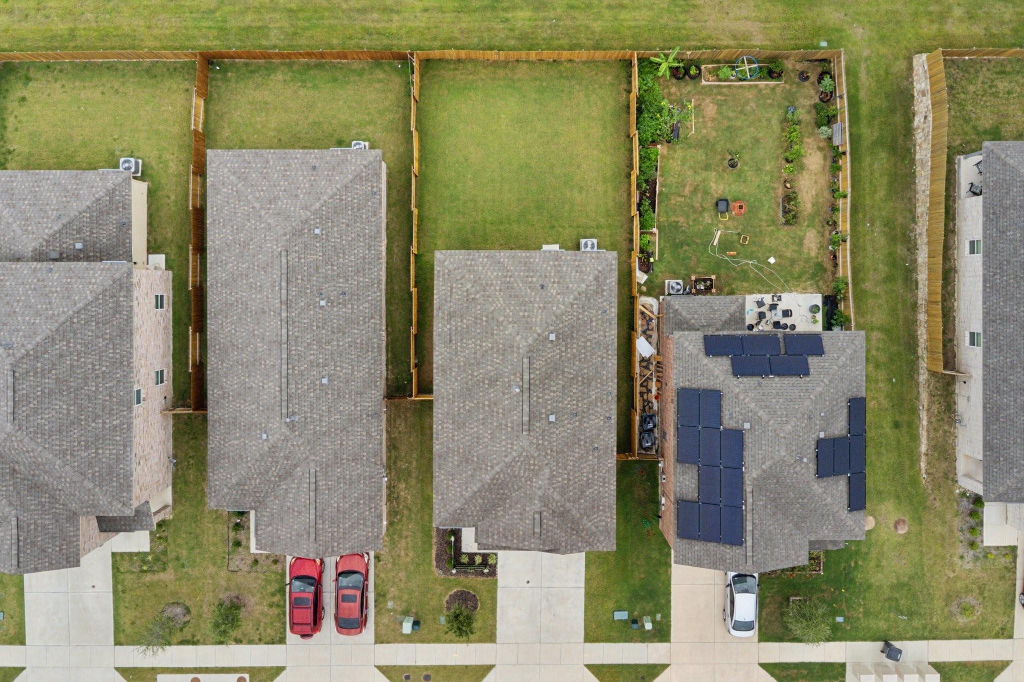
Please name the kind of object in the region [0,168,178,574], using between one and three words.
house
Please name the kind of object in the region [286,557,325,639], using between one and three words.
car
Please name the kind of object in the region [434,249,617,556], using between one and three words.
house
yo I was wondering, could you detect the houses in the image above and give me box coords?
[434,249,617,556]
[207,147,387,560]
[0,168,178,574]
[952,141,1024,535]
[655,296,865,574]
